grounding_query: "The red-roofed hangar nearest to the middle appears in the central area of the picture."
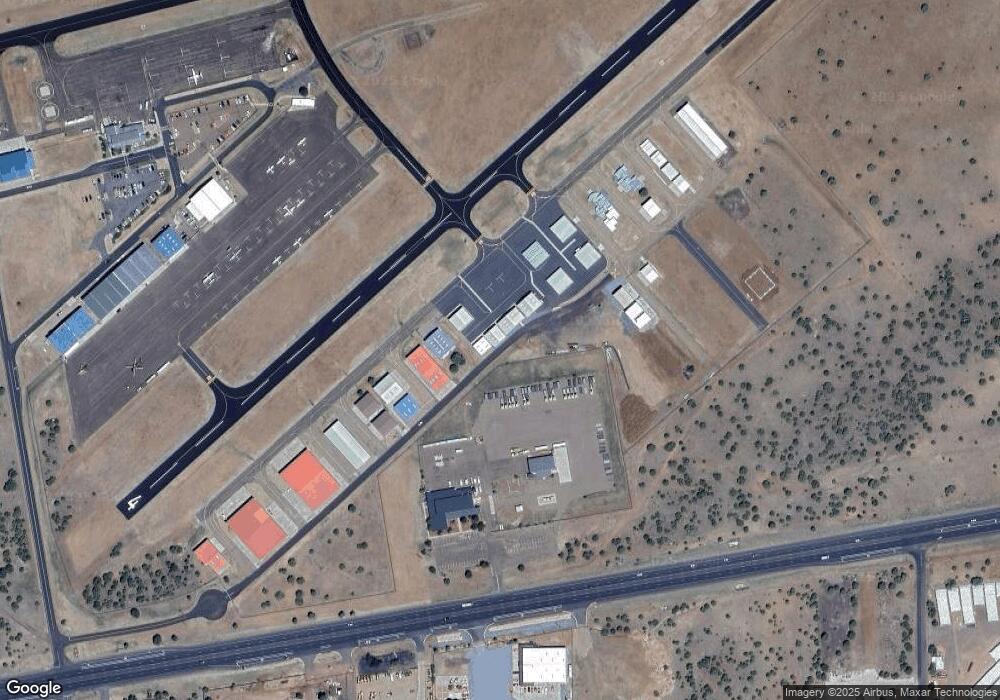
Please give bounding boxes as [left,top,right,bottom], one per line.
[406,345,449,391]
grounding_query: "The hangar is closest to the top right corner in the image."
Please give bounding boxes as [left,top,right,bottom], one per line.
[677,103,729,157]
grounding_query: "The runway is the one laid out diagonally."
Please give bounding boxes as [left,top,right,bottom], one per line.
[117,0,698,519]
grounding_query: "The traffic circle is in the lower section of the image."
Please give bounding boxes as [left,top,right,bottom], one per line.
[186,588,231,620]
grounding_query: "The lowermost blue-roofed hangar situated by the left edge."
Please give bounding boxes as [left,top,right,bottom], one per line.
[47,308,96,353]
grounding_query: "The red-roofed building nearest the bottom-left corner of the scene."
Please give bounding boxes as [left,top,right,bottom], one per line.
[193,540,225,570]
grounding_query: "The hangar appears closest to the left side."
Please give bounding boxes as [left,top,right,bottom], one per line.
[0,148,31,180]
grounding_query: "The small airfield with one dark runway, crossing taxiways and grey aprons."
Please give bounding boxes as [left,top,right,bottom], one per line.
[0,0,772,520]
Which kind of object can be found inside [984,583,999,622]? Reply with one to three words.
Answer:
shed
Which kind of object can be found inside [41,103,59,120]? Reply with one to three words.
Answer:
helipad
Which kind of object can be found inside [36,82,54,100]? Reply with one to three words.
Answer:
helipad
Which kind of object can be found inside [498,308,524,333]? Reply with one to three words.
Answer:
hangar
